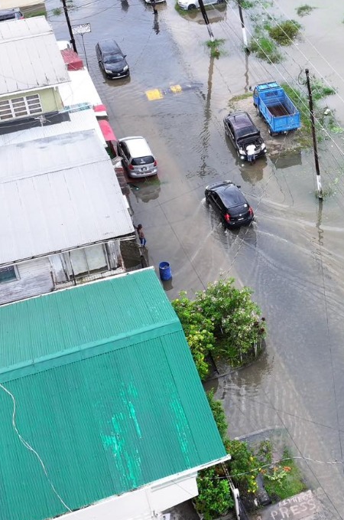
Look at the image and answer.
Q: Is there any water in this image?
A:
Yes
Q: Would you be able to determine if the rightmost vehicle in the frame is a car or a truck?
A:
truck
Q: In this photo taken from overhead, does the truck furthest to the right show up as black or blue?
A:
blue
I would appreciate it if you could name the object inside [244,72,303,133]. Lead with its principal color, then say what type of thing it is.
blue truck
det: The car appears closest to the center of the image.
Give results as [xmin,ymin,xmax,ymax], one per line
[198,176,256,227]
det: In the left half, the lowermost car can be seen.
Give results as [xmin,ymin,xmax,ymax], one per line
[110,130,155,179]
